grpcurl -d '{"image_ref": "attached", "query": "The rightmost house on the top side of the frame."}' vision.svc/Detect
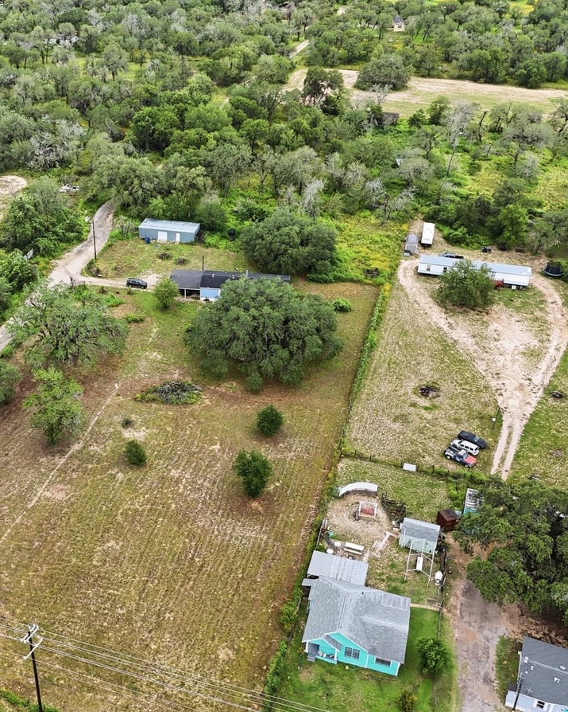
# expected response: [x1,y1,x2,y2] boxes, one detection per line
[416,255,531,289]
